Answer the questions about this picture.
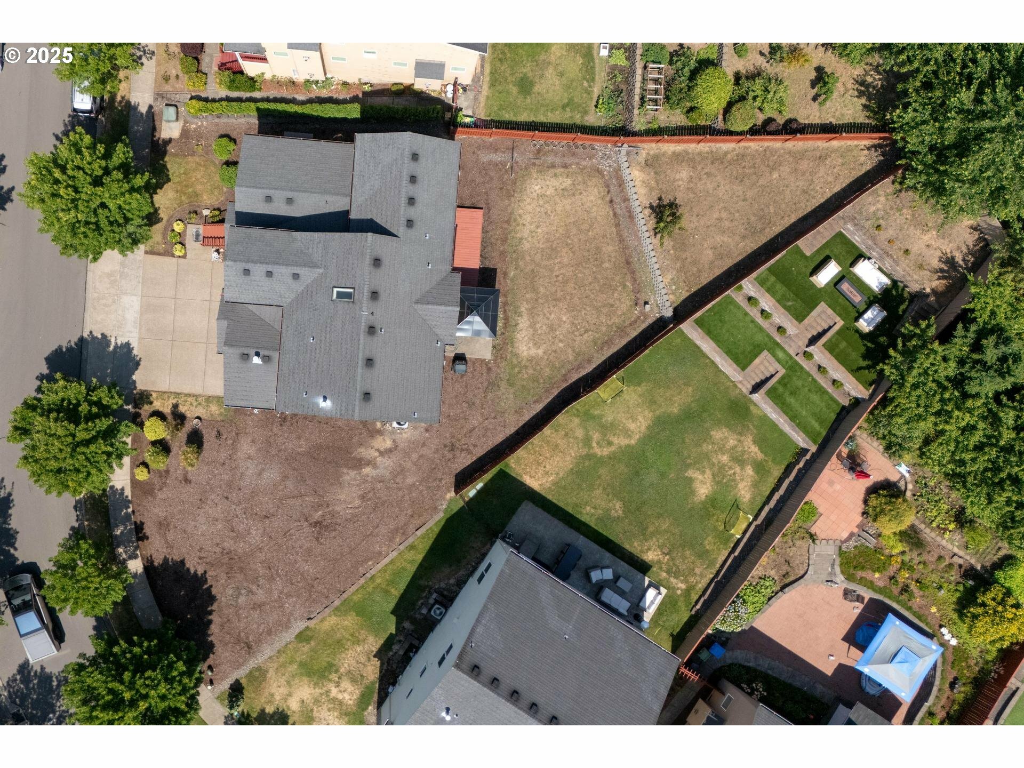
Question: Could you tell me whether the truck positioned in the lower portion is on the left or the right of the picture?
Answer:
left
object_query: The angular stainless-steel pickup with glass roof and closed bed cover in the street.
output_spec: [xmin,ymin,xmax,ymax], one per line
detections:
[4,568,66,669]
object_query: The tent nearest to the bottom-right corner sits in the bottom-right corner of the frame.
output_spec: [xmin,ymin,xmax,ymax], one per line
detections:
[837,601,944,703]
